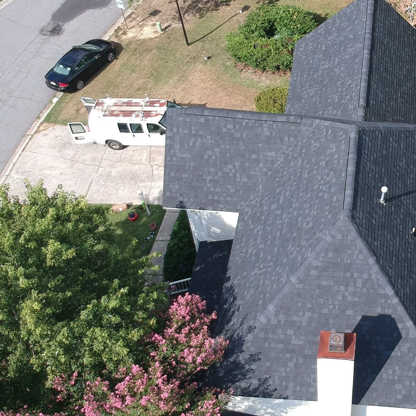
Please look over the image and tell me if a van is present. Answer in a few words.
Yes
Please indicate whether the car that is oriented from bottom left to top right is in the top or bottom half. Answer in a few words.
top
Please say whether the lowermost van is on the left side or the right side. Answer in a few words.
left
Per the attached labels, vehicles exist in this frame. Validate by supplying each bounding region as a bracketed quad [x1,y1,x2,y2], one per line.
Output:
[68,94,170,150]
[46,37,117,93]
